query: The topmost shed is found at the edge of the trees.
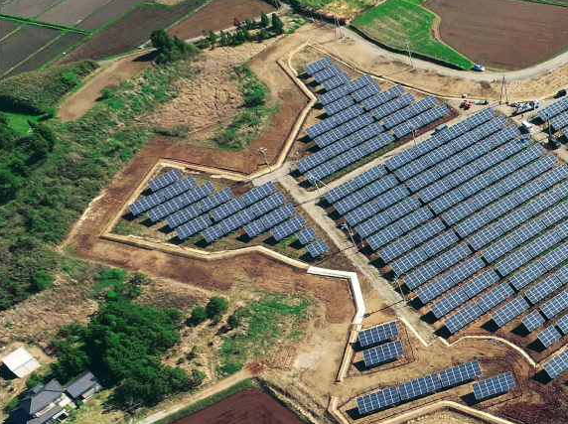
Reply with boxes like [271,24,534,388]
[1,346,42,383]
